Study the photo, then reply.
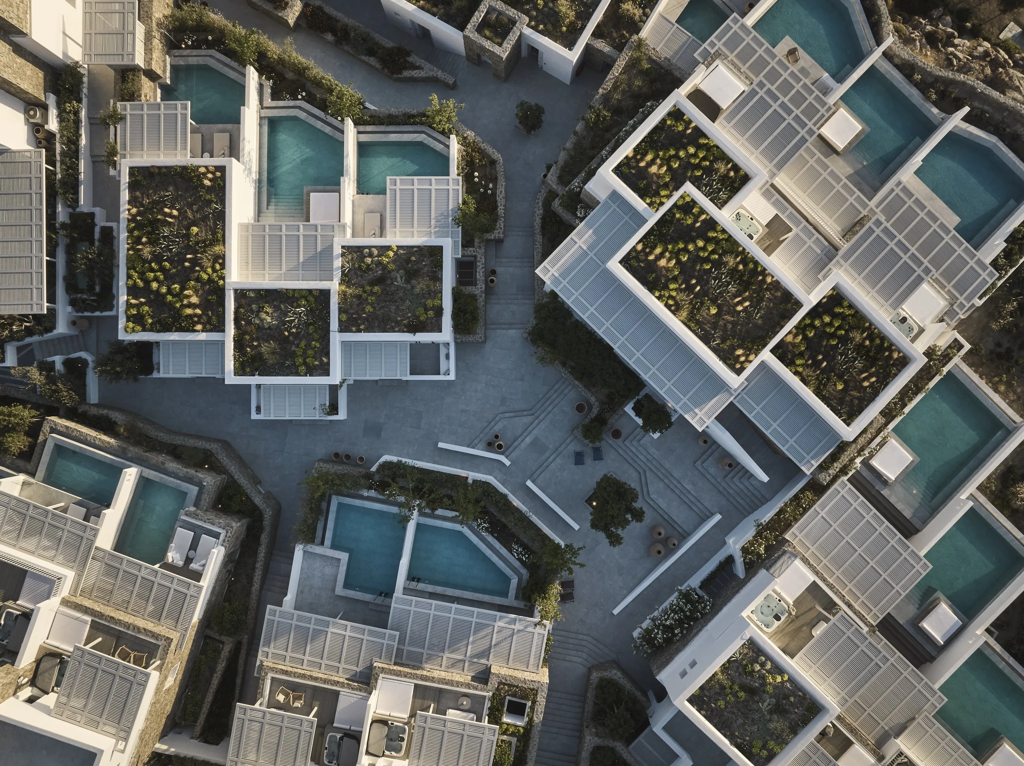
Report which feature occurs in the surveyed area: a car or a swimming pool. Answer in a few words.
swimming pool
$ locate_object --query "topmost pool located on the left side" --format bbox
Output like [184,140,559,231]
[161,49,247,124]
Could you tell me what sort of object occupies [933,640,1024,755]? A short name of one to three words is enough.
swimming pool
